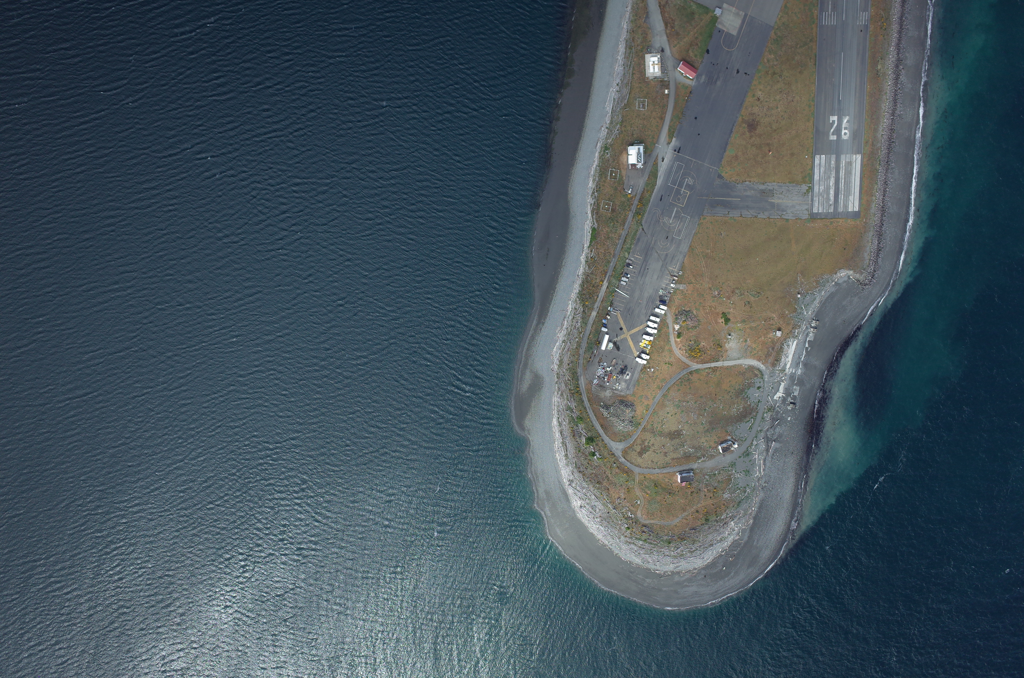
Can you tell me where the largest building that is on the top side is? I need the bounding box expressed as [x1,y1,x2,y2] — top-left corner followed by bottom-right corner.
[627,144,644,165]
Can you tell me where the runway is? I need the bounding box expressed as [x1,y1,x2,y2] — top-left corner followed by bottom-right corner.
[810,0,871,219]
